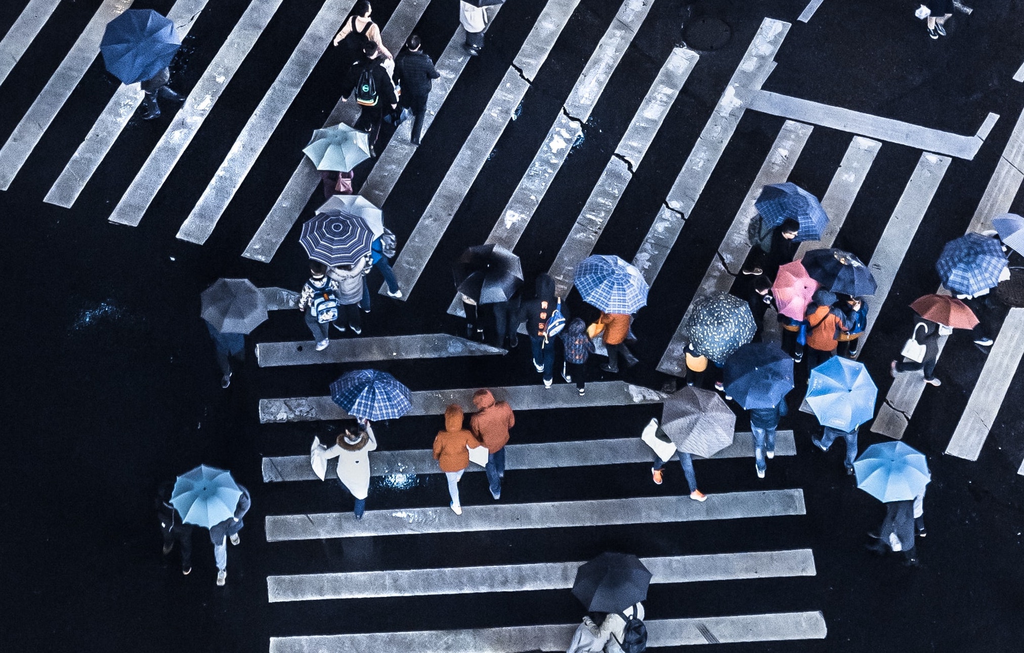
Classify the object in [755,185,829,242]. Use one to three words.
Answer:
umbrella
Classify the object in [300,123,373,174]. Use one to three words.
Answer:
umbrella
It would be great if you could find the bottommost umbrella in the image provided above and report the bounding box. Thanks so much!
[571,548,652,618]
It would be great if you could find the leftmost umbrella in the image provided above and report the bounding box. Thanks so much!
[99,10,184,85]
